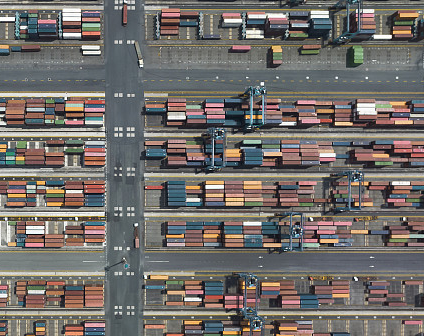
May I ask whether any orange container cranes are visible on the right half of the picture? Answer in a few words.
No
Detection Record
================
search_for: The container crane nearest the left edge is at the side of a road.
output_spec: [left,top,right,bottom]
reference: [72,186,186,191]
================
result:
[201,127,228,173]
